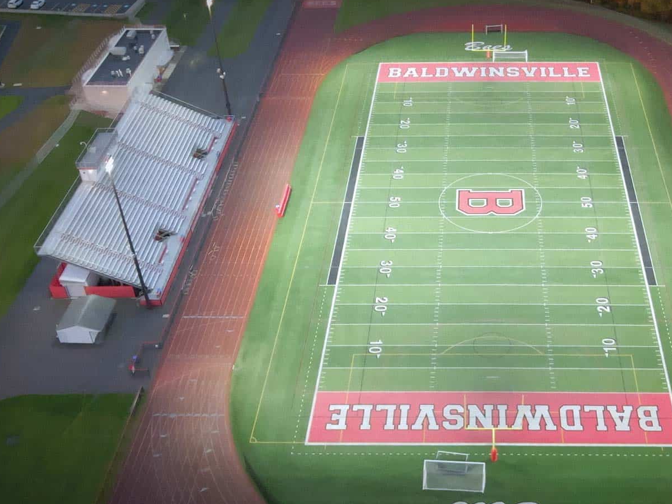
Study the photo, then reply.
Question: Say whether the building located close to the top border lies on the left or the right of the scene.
left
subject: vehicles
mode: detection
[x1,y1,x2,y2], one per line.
[31,0,47,7]
[8,0,24,6]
